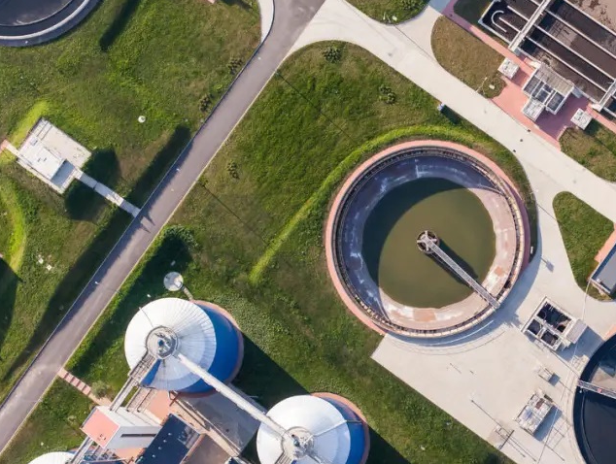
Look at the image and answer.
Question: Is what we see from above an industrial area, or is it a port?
industrial area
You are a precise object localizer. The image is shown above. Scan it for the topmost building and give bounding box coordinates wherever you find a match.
[522,59,578,121]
